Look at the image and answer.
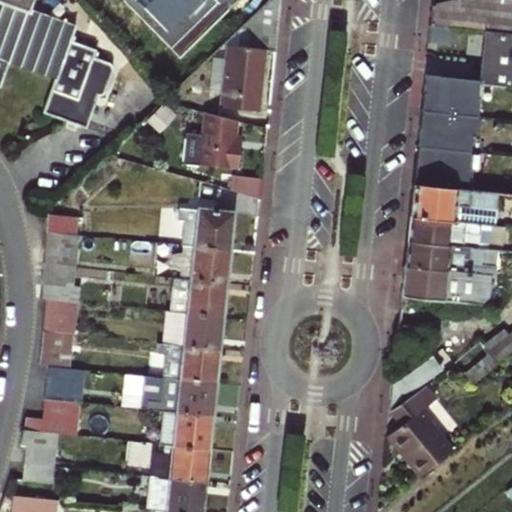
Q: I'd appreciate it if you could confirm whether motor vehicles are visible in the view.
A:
Yes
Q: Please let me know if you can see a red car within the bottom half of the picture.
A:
Yes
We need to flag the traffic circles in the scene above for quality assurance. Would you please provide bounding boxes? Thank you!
[260,288,382,402]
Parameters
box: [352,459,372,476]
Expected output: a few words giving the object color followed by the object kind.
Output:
white car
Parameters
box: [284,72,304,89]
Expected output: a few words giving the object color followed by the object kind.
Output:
white car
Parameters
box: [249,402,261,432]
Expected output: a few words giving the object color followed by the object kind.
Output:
white vehicle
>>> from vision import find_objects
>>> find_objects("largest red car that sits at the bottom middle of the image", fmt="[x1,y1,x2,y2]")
[244,446,264,464]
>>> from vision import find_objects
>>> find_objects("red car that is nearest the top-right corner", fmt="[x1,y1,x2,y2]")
[316,160,334,180]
